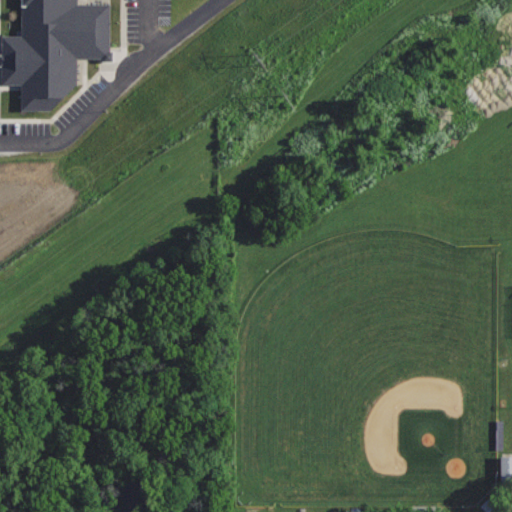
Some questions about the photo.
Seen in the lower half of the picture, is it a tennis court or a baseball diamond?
baseball diamond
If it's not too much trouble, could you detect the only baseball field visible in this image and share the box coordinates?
[238,232,497,505]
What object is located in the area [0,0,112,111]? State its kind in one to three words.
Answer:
building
